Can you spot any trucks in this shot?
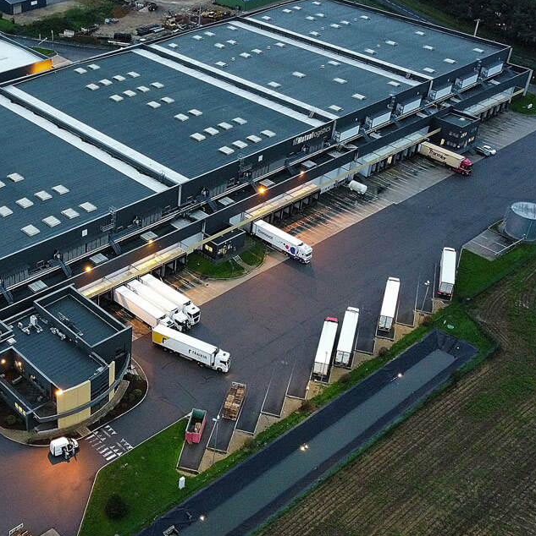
Yes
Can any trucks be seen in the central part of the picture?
Yes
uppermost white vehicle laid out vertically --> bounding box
[438,248,455,297]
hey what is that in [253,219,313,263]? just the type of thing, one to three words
truck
